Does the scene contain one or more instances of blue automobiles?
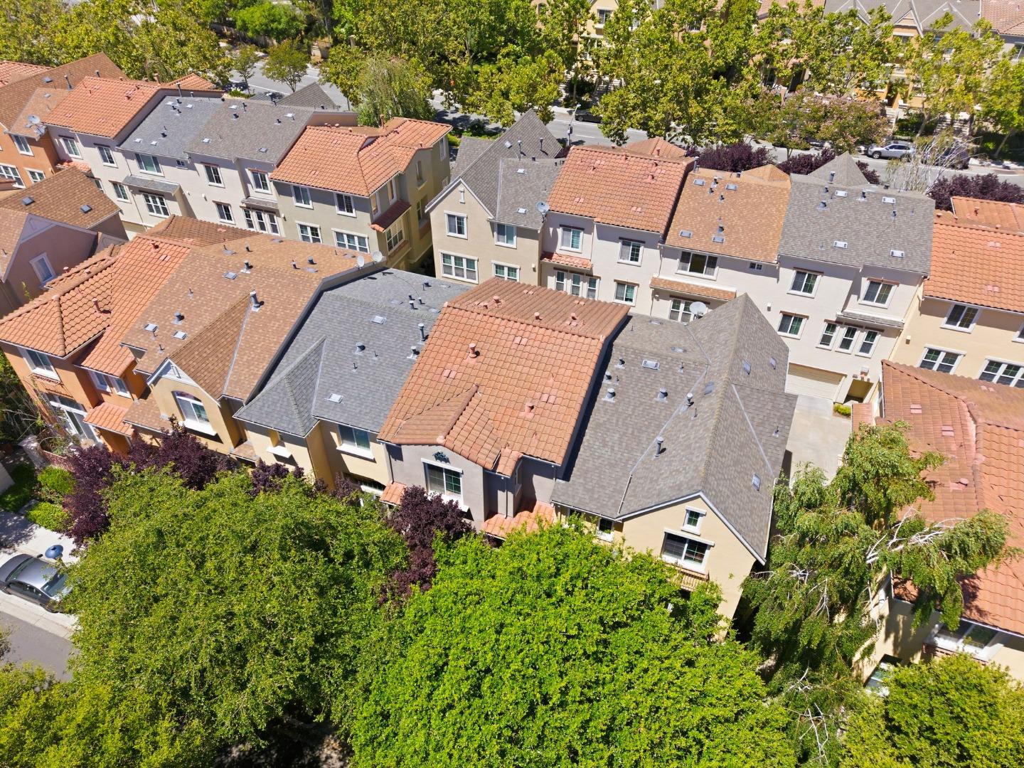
No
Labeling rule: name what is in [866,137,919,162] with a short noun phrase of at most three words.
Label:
car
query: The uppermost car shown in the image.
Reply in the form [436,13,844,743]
[575,105,606,122]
